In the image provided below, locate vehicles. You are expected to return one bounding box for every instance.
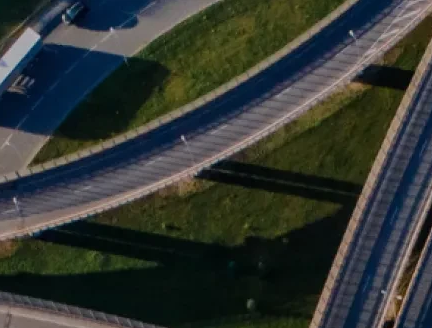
[61,1,87,25]
[0,28,44,95]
